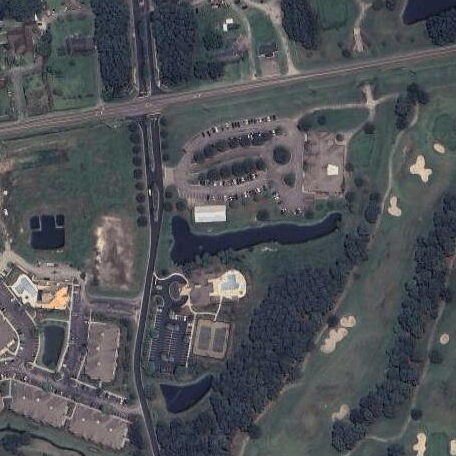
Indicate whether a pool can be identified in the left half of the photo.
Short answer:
Yes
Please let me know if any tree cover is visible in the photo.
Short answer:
Yes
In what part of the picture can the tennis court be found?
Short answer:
bottom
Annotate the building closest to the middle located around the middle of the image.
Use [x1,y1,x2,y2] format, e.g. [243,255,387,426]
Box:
[194,205,226,222]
